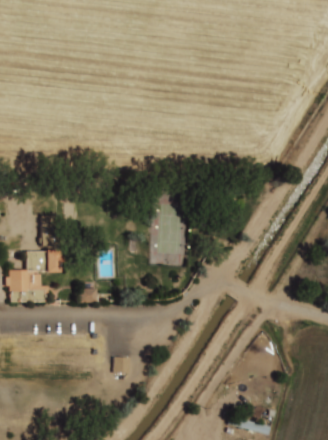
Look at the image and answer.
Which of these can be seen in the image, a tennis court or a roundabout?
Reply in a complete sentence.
The image shows a tennis court.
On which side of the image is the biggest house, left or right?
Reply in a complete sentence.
The biggest house sits on the left side.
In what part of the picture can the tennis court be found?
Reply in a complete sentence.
The tennis court is located in the center region of the scene.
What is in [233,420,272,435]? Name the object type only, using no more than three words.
house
